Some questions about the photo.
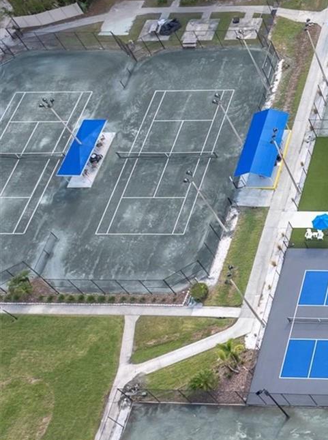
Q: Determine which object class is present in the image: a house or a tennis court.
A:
tennis court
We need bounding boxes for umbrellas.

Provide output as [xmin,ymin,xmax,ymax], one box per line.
[312,212,328,233]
